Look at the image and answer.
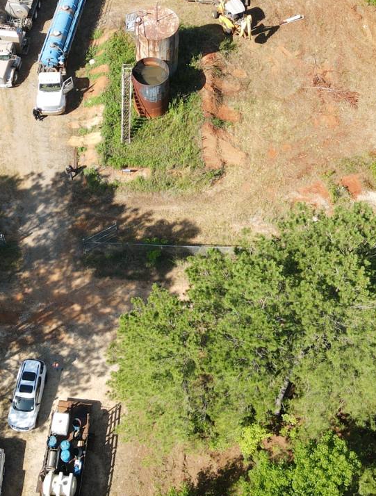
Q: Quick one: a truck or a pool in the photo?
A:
truck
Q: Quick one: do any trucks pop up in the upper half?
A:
Yes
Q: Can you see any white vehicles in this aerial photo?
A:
Yes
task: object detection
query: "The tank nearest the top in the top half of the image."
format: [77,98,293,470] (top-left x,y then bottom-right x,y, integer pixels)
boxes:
[135,9,178,71]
